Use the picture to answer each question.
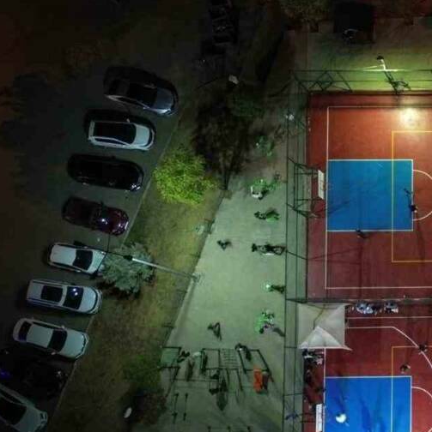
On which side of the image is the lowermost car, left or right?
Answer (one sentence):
The lowermost car appears in the left half of the scene.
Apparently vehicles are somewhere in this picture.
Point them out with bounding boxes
[0,352,68,394]
[44,241,113,278]
[108,72,180,115]
[68,154,147,193]
[86,117,161,154]
[15,319,90,358]
[61,197,132,236]
[0,382,49,432]
[27,280,106,316]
